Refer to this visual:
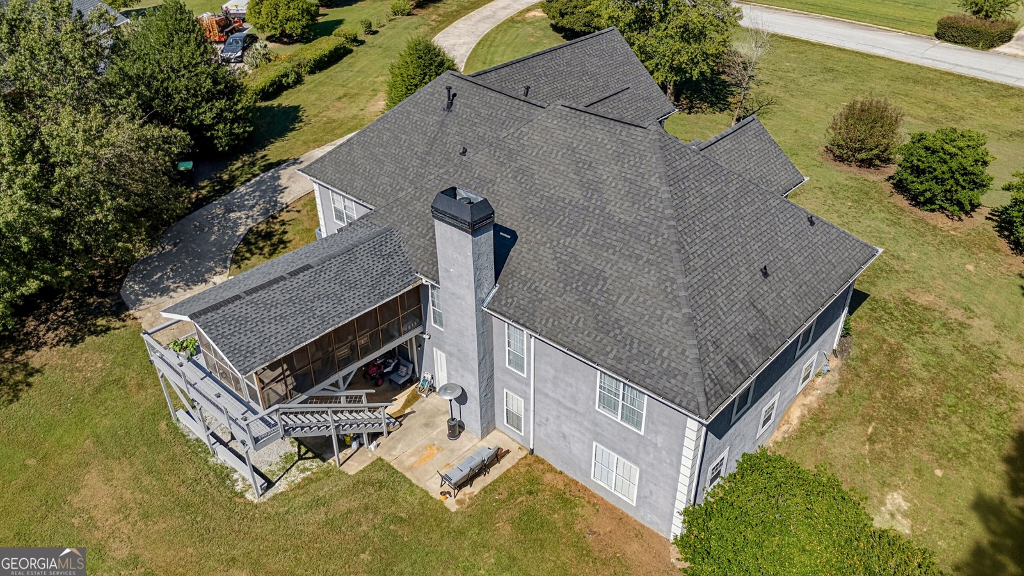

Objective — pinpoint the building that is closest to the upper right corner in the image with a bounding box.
[294,29,885,545]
